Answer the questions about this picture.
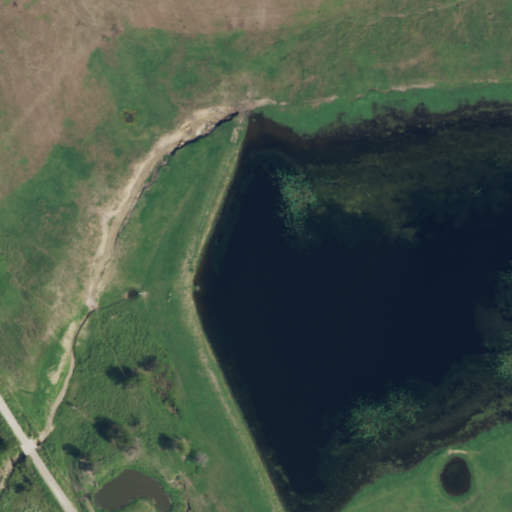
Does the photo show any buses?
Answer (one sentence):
No, the scene contains no bus.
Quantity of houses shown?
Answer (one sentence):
I count no houses.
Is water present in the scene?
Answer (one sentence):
Yes, some water is visible.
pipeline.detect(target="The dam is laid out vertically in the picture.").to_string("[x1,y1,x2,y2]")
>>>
[148,112,290,512]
